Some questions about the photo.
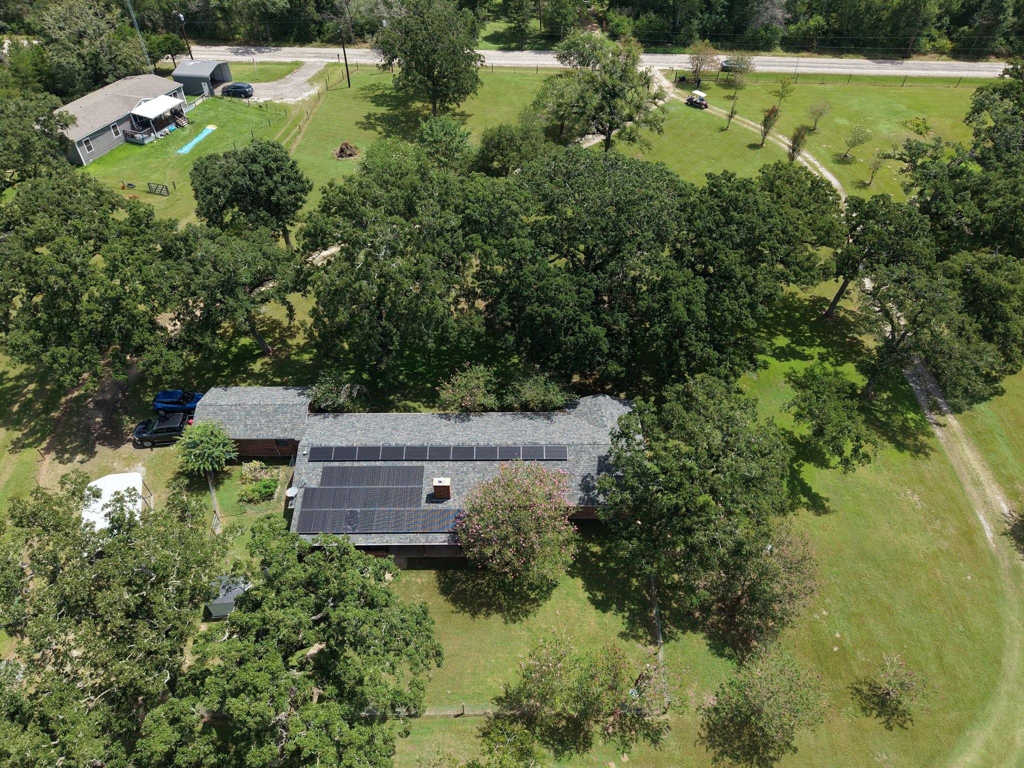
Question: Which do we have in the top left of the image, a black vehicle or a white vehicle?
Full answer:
You can see a black vehicle in the top left of the image.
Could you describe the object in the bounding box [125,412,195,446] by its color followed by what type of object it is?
black truck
